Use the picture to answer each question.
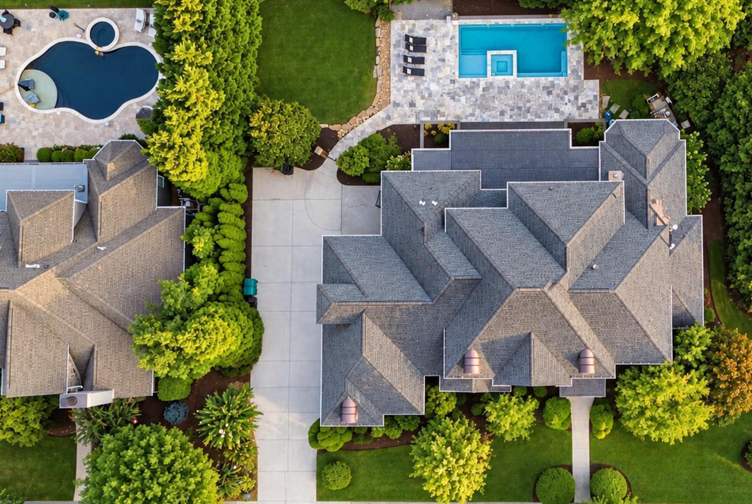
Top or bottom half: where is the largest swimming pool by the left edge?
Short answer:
top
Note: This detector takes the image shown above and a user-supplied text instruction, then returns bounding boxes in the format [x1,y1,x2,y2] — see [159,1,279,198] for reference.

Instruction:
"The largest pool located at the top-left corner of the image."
[14,35,161,124]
